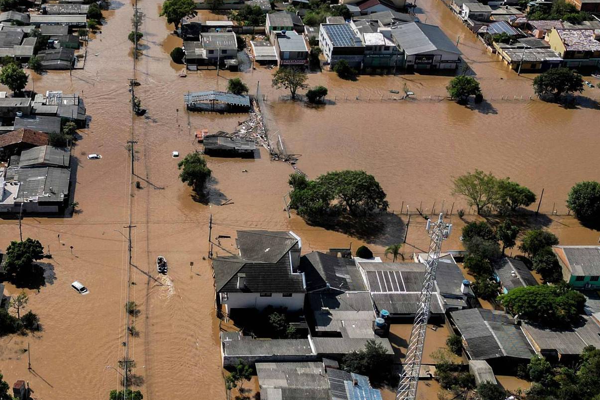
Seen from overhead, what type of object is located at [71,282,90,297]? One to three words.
car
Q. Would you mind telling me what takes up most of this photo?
water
